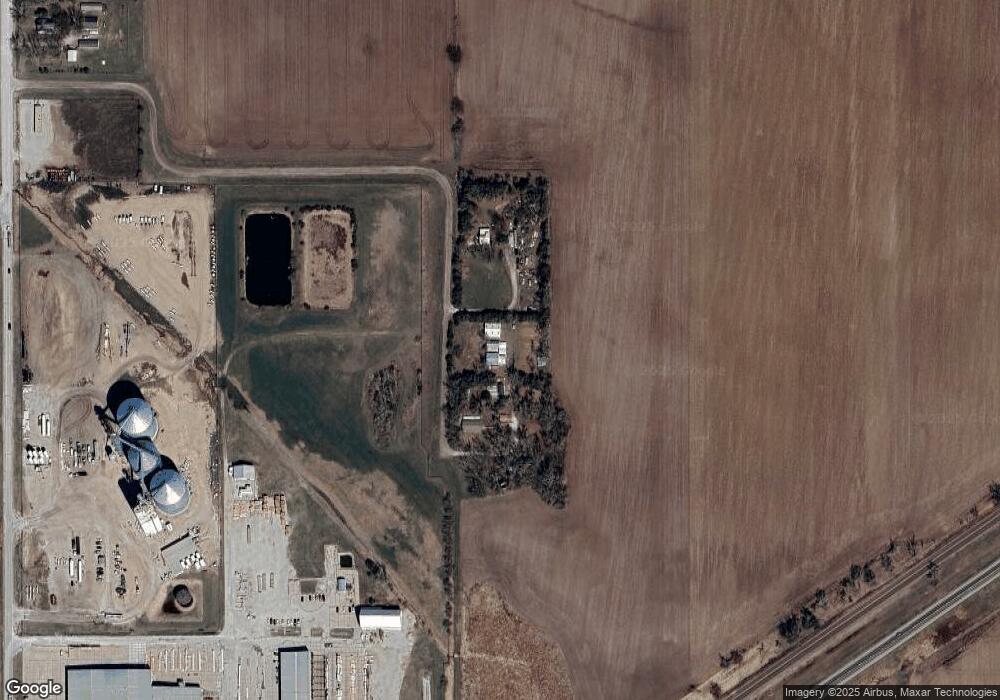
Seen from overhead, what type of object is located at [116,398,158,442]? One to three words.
silo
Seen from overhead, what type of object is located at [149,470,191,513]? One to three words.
silo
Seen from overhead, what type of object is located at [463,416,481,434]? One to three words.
barn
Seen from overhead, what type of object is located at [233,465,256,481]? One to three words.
building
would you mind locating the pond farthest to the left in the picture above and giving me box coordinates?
[246,214,291,306]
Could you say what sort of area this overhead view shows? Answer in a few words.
farmland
